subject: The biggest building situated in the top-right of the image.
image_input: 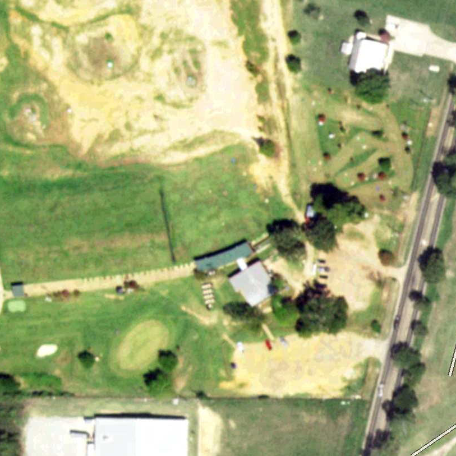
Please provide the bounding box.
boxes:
[351,38,388,72]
